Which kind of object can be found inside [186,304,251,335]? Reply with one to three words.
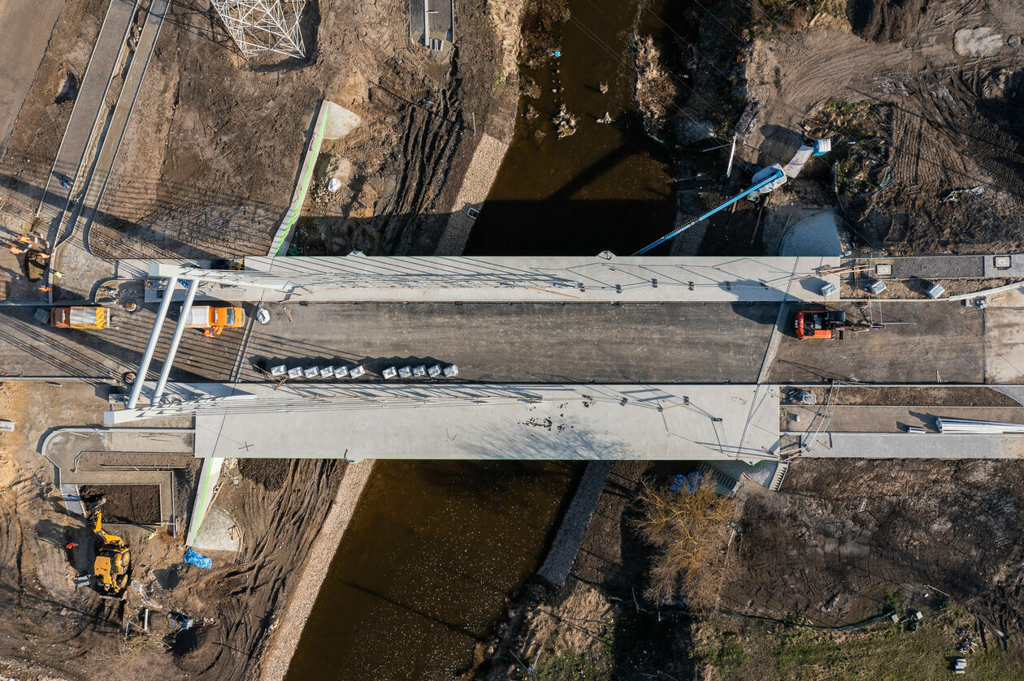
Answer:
truck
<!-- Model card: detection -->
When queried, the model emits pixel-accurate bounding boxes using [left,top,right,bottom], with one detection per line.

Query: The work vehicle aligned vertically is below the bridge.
[94,509,135,607]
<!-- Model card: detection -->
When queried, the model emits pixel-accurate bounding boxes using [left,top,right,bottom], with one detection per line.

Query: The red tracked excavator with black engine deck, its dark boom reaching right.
[792,310,880,339]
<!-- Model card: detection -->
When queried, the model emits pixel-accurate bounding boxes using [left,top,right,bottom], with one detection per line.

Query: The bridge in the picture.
[106,251,840,466]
